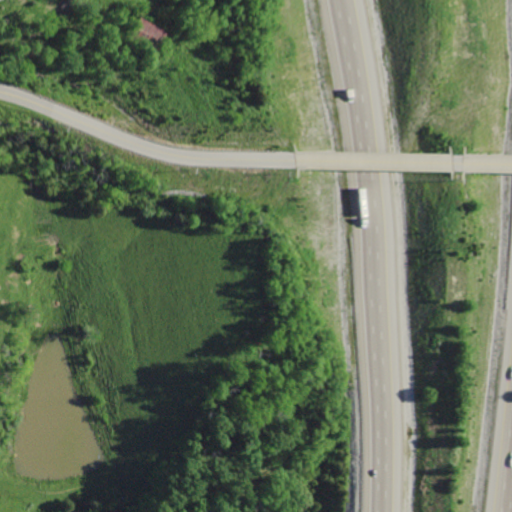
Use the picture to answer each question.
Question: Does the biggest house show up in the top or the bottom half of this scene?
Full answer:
The top half of the photo is where the biggest house is.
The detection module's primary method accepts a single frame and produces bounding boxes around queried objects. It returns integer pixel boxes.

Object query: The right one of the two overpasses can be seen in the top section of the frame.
[463,146,512,182]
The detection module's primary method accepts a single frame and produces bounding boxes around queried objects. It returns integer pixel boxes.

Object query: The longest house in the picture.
[135,16,168,44]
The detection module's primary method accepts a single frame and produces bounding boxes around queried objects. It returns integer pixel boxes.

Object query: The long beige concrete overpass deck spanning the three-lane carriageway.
[296,144,452,178]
